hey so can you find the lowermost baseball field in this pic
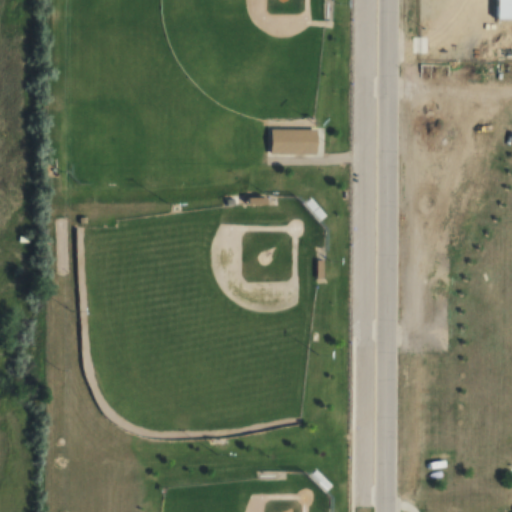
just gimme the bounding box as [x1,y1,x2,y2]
[162,472,332,512]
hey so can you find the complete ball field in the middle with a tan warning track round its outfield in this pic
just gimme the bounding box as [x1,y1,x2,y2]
[77,196,326,441]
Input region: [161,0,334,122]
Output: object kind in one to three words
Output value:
baseball field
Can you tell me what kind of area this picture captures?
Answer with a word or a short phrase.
sports ground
